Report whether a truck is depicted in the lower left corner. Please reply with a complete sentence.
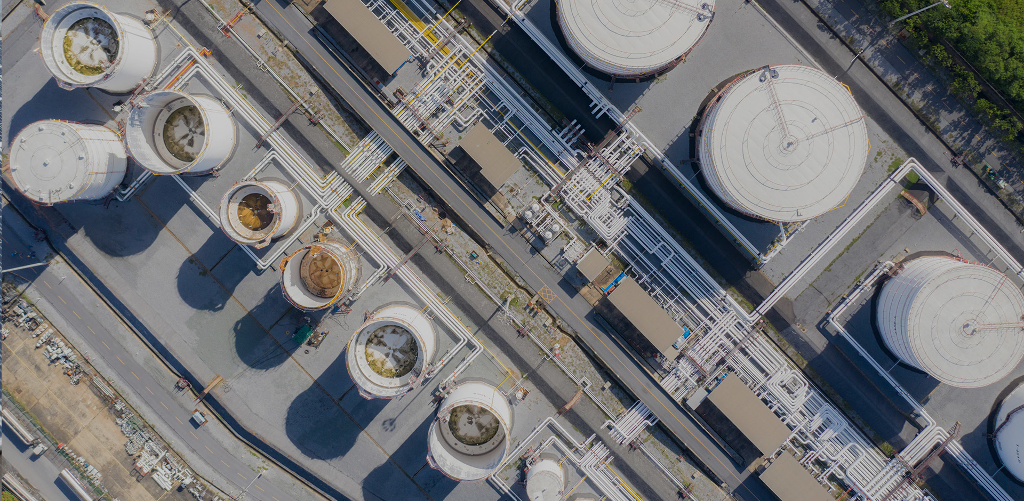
Yes, a truck is visible in the lower left corner.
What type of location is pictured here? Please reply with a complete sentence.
This looks like an industrial area.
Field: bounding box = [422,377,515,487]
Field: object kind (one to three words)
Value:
storage tank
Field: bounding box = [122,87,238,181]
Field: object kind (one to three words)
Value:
storage tank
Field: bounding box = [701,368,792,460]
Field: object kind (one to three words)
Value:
shed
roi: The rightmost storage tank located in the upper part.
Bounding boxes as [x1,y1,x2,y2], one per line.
[687,62,873,226]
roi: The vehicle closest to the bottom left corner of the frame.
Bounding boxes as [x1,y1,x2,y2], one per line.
[2,475,29,501]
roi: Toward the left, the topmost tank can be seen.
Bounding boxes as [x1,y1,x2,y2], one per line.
[38,0,160,95]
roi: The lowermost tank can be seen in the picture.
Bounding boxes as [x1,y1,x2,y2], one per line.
[523,456,566,501]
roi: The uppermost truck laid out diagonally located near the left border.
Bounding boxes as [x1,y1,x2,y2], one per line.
[0,409,40,454]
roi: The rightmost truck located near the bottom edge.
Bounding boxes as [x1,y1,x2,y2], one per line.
[60,471,90,501]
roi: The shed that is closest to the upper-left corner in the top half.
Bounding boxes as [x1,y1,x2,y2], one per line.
[316,0,414,82]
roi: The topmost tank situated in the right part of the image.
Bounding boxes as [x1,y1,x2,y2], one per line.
[545,0,714,83]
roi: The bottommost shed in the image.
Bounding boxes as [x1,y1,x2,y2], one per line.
[750,446,837,501]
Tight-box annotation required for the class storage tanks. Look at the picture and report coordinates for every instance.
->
[216,177,302,250]
[341,301,440,405]
[987,376,1024,493]
[277,238,356,313]
[523,456,566,501]
[545,0,714,83]
[9,120,131,202]
[38,0,160,95]
[868,249,1024,389]
[122,87,238,181]
[687,62,873,226]
[422,377,515,487]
